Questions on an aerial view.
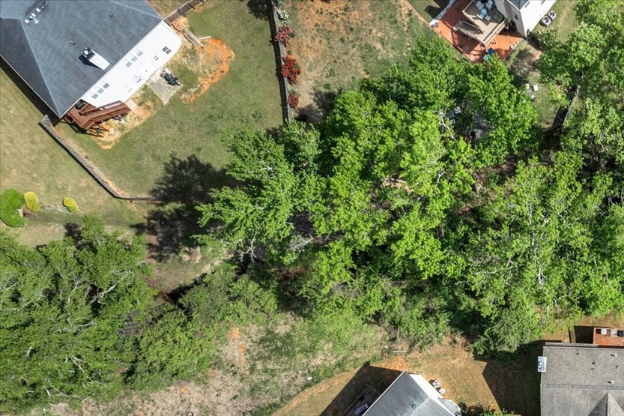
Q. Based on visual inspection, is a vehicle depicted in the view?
No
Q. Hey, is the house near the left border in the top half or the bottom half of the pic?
top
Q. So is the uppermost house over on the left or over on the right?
right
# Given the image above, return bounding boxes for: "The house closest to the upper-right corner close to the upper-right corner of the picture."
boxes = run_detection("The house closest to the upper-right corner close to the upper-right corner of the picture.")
[475,0,556,36]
